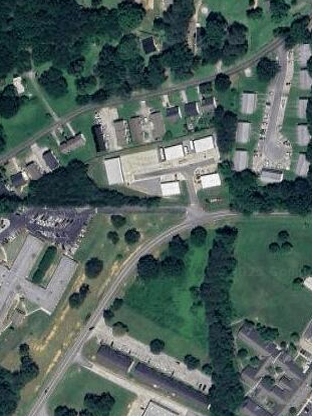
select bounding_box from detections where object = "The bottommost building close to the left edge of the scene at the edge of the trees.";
[0,236,79,330]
